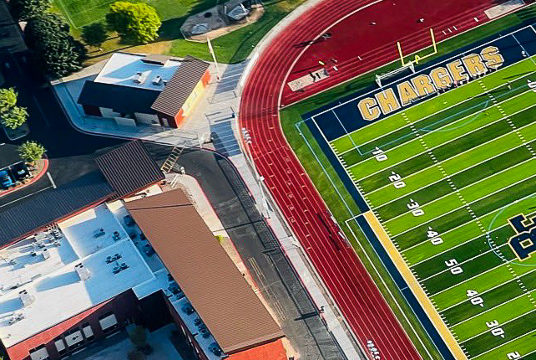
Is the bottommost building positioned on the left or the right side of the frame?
left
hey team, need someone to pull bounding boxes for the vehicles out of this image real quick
[0,166,10,186]
[14,163,27,181]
